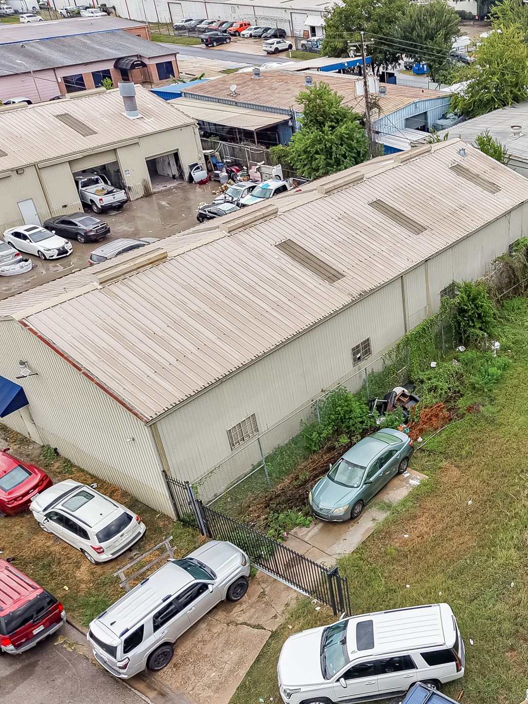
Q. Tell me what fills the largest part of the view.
buildings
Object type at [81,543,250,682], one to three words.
car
